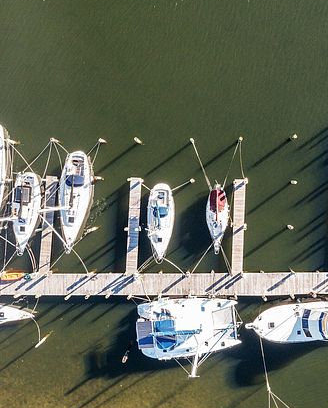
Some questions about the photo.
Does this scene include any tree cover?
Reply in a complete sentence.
No, tree cover can't be seen anywhere here.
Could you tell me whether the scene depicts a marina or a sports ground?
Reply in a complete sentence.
This image shows a marina.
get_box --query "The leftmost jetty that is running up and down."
[38,176,61,272]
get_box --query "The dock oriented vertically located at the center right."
[231,179,249,272]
